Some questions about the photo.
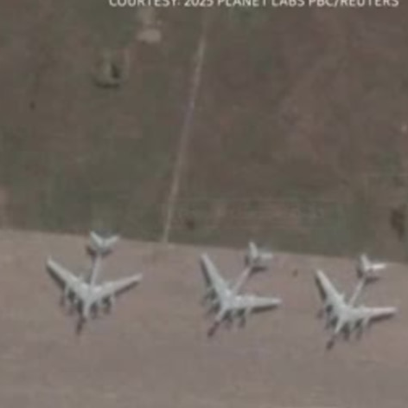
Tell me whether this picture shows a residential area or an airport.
airport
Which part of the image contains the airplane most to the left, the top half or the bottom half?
bottom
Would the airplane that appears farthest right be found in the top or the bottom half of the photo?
bottom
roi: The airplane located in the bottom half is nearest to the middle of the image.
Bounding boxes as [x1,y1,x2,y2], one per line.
[200,241,281,331]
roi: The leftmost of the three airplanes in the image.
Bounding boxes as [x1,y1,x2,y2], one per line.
[48,231,141,327]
